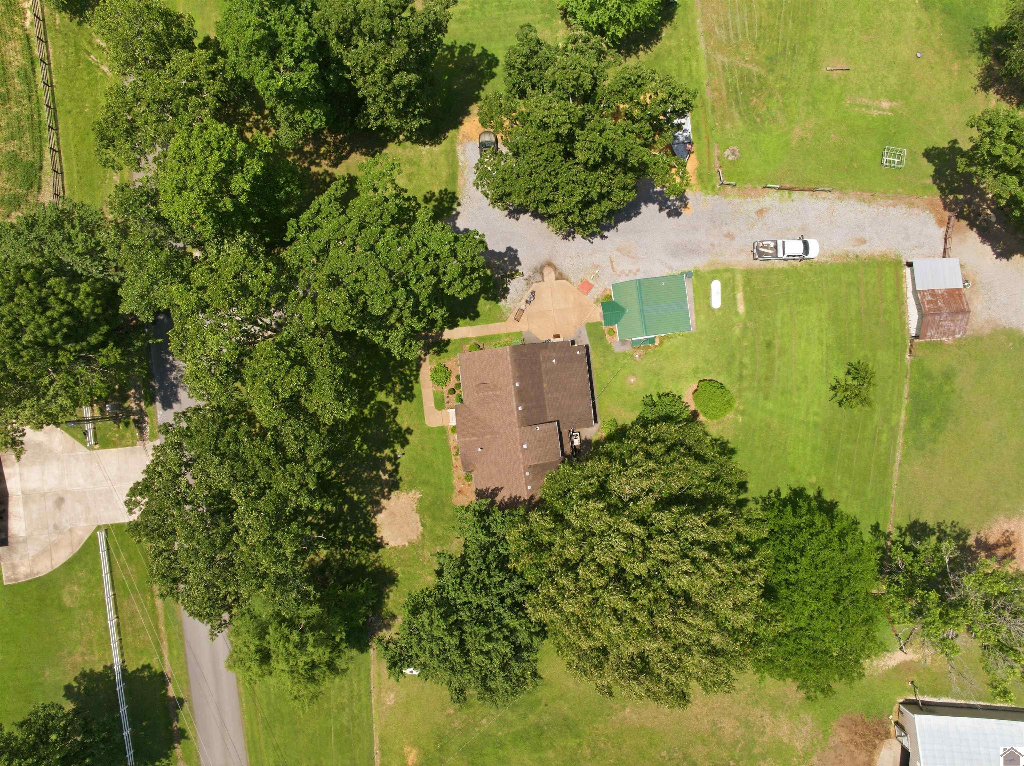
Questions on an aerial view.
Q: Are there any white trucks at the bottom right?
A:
No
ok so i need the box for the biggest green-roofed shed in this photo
[598,274,693,346]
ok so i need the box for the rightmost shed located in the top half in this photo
[906,258,971,339]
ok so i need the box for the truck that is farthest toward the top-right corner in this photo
[749,233,819,263]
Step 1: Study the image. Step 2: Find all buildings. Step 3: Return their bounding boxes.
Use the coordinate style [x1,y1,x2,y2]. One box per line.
[455,341,595,525]
[598,274,693,346]
[906,258,971,339]
[890,703,1024,766]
